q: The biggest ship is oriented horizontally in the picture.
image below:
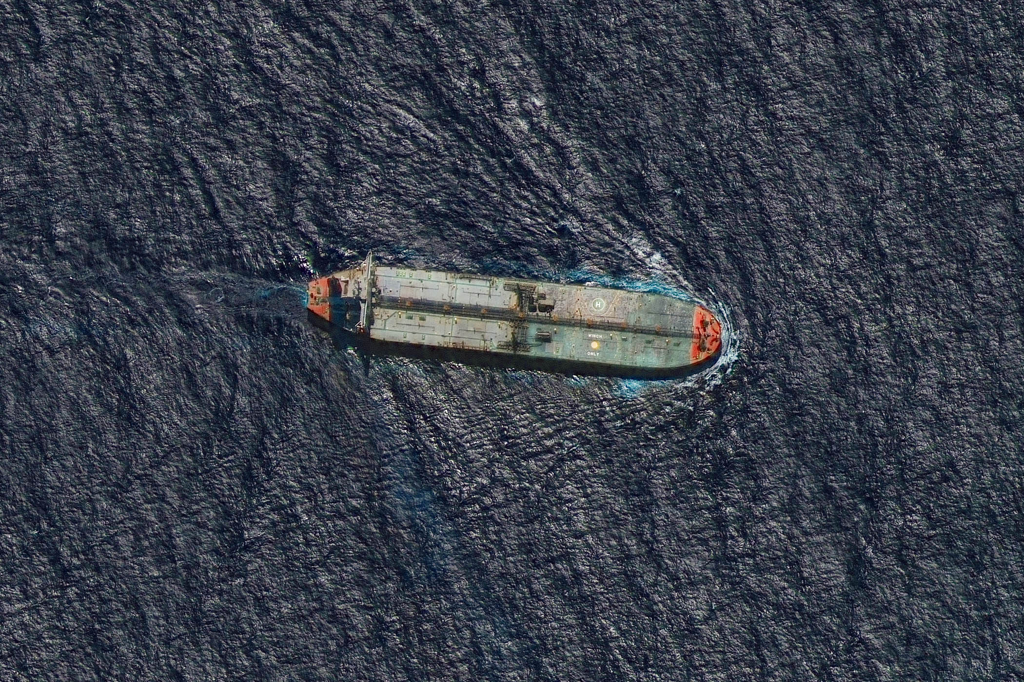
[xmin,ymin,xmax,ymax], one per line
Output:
[307,252,722,374]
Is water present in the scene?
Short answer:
Yes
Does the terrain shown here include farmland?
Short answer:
No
